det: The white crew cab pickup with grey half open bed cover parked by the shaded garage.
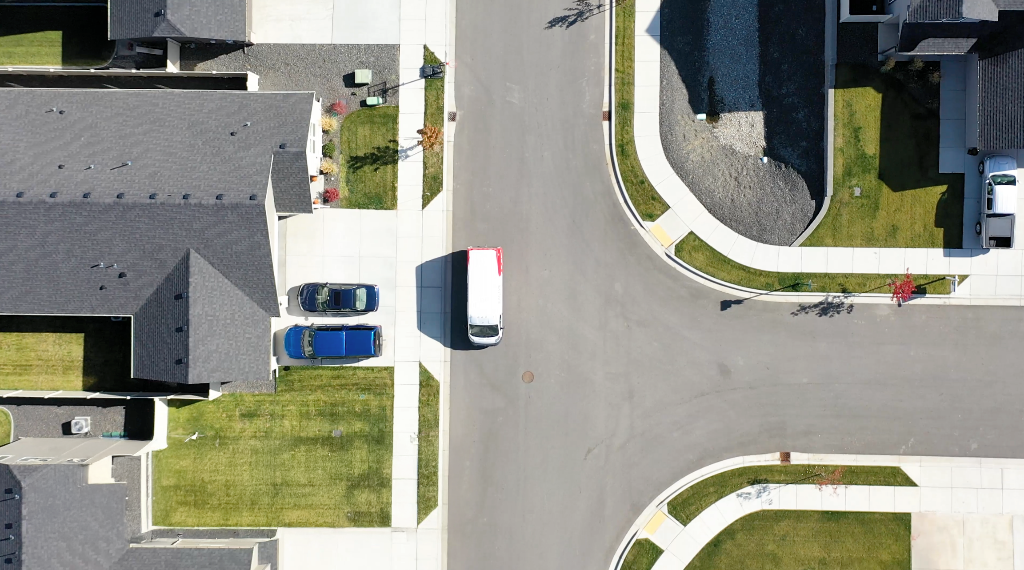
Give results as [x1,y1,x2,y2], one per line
[974,152,1024,251]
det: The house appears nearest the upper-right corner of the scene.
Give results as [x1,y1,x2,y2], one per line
[870,0,1024,149]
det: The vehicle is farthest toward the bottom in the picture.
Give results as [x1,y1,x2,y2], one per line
[285,321,388,362]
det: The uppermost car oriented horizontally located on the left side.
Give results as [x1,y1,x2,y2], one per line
[296,281,380,316]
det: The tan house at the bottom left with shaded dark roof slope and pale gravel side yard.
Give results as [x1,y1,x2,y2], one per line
[0,446,279,570]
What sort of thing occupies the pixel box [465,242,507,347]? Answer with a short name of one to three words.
van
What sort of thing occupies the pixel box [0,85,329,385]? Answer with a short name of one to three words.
house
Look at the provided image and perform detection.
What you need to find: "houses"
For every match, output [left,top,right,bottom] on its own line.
[870,0,1024,149]
[0,0,257,48]
[0,85,329,385]
[0,446,279,570]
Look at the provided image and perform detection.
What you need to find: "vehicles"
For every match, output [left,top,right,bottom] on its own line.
[285,321,388,362]
[974,152,1024,251]
[465,242,507,347]
[296,281,380,316]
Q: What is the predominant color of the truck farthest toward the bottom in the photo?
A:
blue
